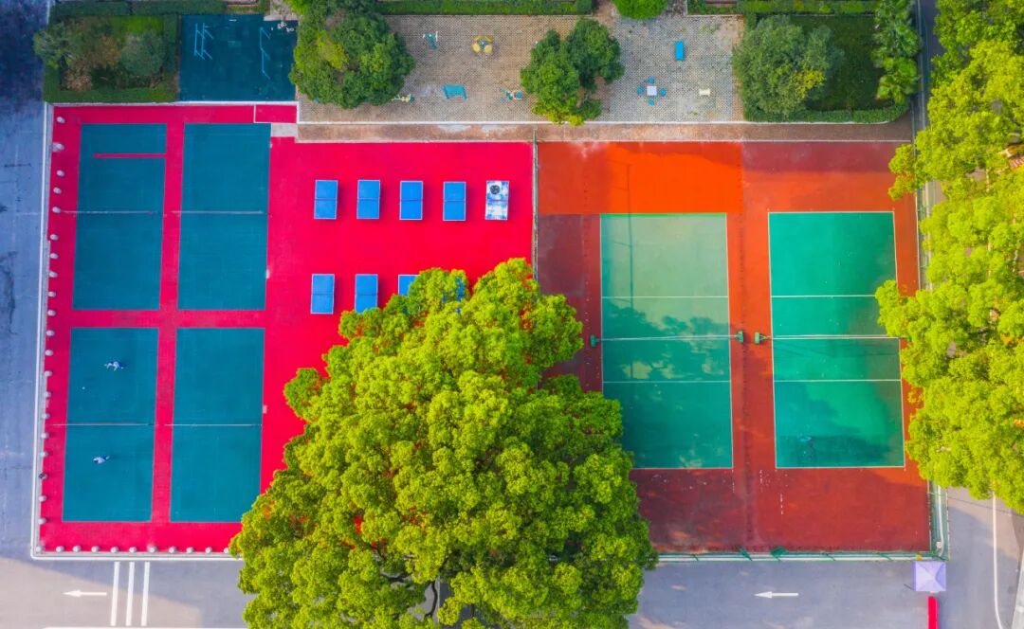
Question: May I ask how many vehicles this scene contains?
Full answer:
Not a single vehicle can be seen.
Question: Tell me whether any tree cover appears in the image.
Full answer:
Yes, the picture does contain tree cover.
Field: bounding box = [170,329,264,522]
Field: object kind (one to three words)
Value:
sports court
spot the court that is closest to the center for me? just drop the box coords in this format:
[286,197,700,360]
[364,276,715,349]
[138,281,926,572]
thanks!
[601,214,732,468]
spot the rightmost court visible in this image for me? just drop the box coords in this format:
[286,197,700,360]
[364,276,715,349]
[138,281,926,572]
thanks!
[768,212,904,467]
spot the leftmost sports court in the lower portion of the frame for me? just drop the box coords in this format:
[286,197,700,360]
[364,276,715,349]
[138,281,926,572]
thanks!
[62,329,158,522]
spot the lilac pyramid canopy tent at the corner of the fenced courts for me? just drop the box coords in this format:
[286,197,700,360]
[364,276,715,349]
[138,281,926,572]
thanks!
[888,554,945,592]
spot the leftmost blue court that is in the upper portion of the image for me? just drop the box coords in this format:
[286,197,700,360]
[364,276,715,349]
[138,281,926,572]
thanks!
[72,124,166,310]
